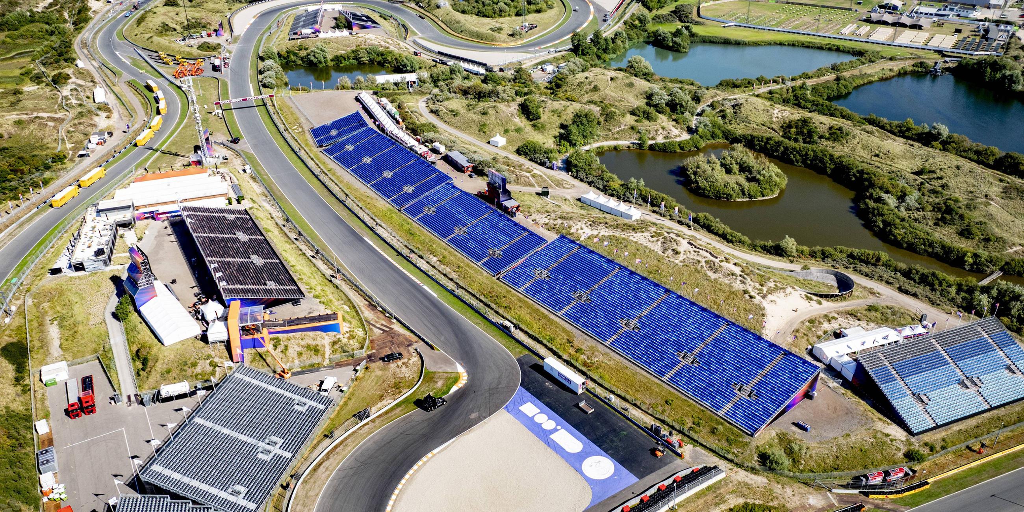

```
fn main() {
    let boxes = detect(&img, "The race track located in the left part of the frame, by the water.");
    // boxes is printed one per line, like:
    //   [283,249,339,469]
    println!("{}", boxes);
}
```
[229,0,590,512]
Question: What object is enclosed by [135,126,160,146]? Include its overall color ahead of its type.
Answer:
yellow vehicle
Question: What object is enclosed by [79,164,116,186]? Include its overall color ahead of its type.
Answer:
yellow truck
